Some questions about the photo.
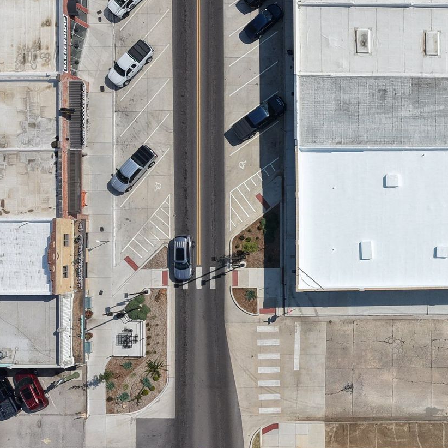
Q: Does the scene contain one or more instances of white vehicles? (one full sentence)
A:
Yes, a white vehicle appears in the view.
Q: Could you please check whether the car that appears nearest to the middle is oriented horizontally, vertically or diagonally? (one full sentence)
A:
The car that appears nearest to the middle is laid out vertically.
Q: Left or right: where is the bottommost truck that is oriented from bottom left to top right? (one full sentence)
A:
The bottommost truck that is oriented from bottom left to top right sits on the left side.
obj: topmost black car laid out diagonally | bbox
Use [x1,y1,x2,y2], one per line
[241,2,285,41]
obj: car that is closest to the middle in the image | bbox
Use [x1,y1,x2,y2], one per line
[170,234,194,282]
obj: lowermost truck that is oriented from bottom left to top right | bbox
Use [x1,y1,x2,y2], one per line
[107,142,158,193]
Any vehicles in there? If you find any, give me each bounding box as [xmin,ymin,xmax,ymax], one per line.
[107,142,158,193]
[14,369,48,416]
[241,0,264,9]
[105,37,155,88]
[0,368,21,423]
[170,234,194,282]
[105,0,140,17]
[241,2,285,41]
[227,96,285,140]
